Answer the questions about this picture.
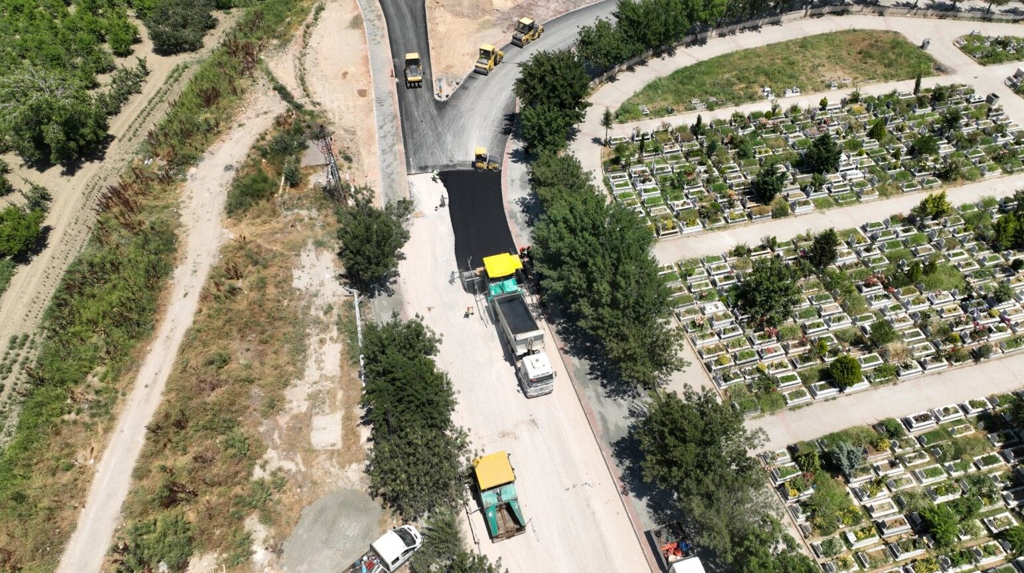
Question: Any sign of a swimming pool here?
No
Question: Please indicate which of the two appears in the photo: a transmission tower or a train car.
transmission tower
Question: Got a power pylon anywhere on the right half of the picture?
No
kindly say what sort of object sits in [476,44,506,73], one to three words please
work vehicle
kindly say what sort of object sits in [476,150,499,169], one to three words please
work vehicle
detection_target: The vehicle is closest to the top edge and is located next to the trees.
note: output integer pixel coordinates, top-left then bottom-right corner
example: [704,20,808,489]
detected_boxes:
[514,16,543,44]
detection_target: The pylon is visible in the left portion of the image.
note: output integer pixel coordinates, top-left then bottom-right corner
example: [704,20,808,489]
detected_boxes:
[309,122,344,203]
